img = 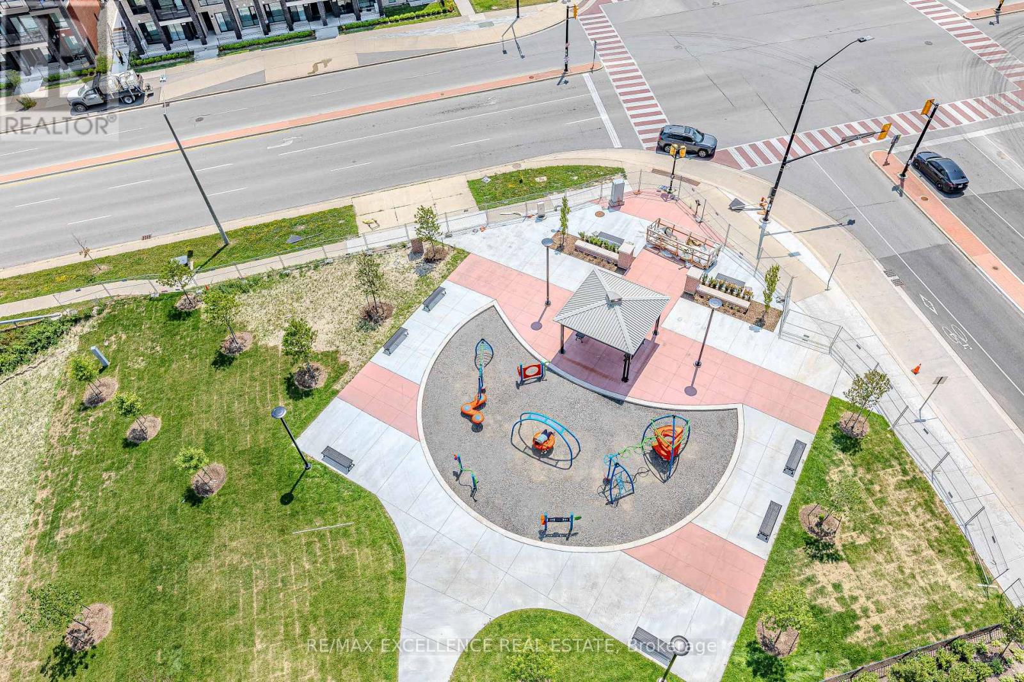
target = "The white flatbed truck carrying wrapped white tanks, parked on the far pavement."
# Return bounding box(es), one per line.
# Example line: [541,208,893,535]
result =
[63,75,144,112]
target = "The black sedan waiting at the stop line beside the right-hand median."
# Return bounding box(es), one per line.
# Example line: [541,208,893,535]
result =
[913,148,974,192]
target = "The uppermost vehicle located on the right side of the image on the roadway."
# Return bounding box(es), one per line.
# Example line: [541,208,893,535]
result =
[658,121,720,157]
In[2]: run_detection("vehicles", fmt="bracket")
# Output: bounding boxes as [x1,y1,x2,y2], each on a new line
[63,75,144,112]
[913,148,974,192]
[658,121,720,157]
